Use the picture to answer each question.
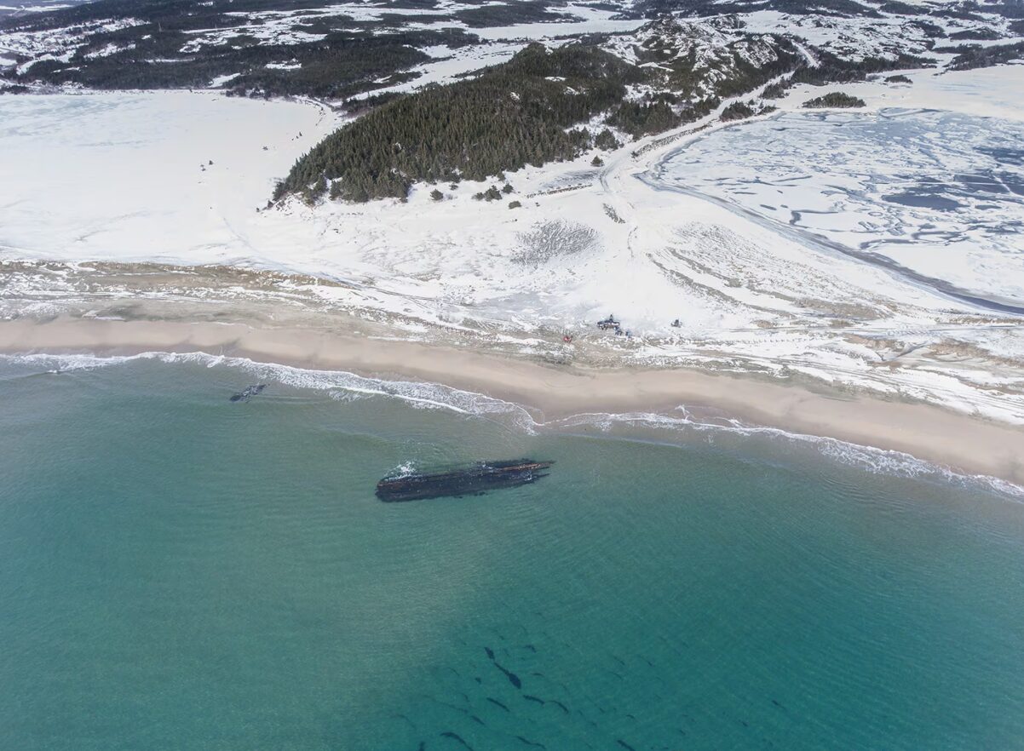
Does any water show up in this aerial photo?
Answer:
Yes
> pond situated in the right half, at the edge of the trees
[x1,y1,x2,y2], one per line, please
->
[639,66,1024,316]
